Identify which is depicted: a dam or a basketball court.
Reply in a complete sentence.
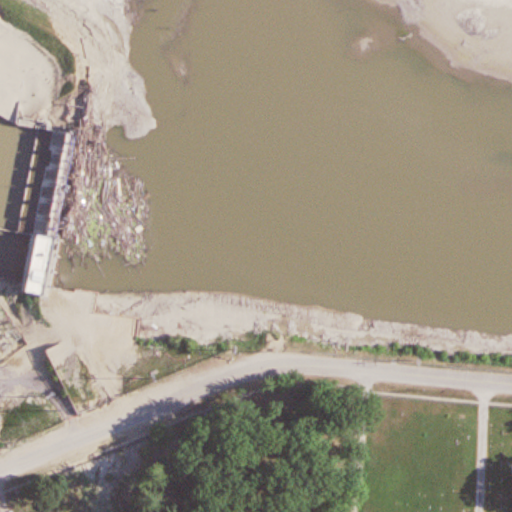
Visible in the photo is a dam.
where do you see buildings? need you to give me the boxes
[25,234,52,299]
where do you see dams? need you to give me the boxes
[20,128,79,243]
